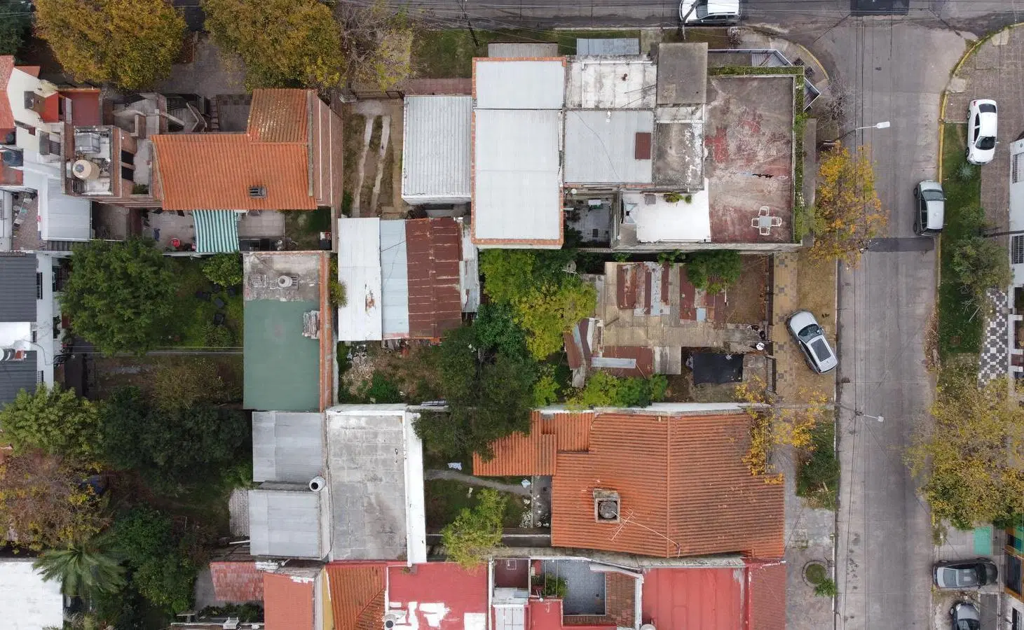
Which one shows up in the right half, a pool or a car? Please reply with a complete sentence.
What appears in the right half is a car.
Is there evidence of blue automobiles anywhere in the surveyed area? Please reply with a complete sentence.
No, the photo shows no blue automobile.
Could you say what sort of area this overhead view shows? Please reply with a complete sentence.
This image shows a residential area.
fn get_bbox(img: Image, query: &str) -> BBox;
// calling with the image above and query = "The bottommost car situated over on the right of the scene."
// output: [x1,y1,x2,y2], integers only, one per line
[945,594,983,630]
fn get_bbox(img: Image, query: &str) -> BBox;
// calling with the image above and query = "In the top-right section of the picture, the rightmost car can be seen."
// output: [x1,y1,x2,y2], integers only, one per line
[963,99,1001,164]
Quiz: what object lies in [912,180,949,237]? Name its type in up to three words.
car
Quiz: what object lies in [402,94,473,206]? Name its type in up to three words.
building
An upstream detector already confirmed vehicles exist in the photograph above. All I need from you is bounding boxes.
[786,310,840,375]
[678,0,742,26]
[945,594,983,630]
[963,99,1001,164]
[912,180,949,237]
[931,556,997,590]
